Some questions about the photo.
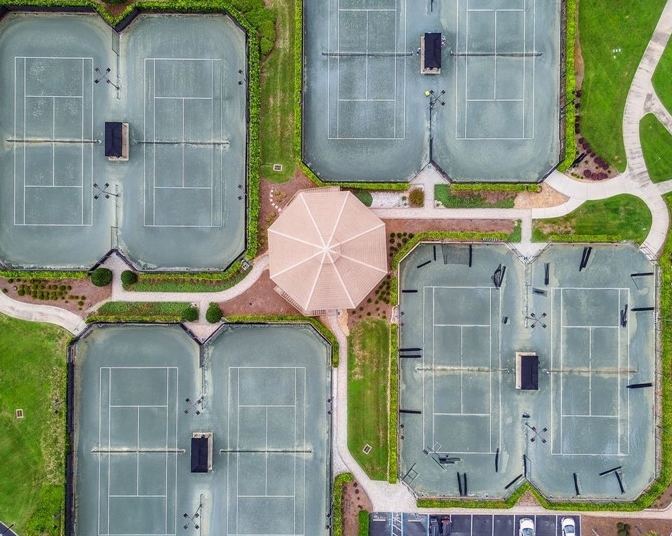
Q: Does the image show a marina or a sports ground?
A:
sports ground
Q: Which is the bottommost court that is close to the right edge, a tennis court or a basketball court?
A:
tennis court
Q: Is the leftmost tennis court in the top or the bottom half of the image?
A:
top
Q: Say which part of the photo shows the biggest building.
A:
center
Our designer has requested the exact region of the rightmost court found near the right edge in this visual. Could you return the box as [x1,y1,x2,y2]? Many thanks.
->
[526,244,655,500]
